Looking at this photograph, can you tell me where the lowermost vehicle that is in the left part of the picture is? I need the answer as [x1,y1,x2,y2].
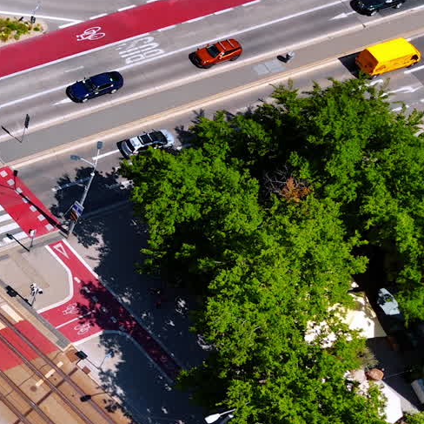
[121,125,178,158]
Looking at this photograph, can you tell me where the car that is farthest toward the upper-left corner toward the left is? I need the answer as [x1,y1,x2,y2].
[68,70,125,102]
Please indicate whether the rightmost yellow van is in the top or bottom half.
top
